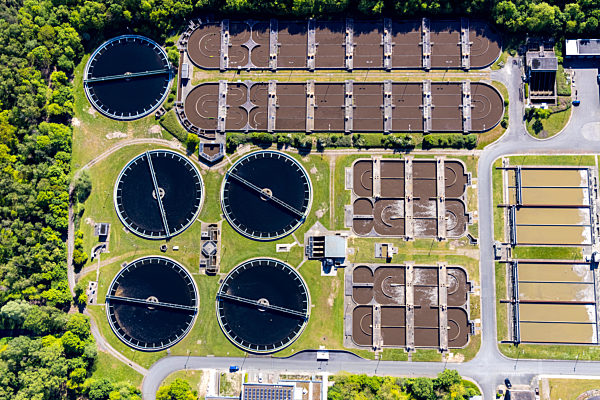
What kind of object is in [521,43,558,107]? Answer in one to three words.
building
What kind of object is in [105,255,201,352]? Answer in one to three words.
storage tank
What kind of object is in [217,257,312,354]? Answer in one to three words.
storage tank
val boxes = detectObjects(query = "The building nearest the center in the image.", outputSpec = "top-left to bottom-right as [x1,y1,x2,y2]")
[305,235,346,258]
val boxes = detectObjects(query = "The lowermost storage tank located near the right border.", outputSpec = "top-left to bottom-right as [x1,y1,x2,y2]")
[499,259,599,346]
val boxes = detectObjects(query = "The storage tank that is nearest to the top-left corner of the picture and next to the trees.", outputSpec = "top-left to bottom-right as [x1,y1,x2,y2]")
[83,36,175,121]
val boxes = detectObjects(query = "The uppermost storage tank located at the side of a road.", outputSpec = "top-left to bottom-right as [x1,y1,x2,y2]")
[187,17,502,76]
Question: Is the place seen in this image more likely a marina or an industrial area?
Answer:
industrial area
